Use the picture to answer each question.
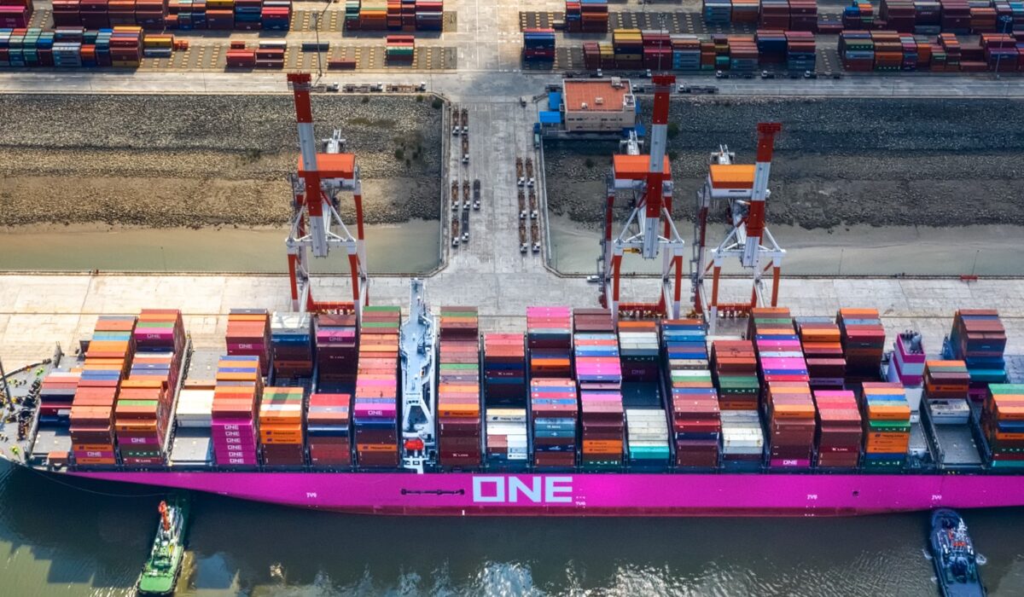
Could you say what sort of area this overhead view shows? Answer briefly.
port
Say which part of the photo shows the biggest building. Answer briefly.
top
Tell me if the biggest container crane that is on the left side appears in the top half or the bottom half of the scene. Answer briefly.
top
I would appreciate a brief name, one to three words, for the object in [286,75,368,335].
container crane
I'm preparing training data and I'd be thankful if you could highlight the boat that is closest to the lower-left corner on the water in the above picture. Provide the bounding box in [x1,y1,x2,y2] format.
[137,499,191,597]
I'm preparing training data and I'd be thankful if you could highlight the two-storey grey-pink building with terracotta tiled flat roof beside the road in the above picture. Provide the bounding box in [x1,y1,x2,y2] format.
[563,72,636,130]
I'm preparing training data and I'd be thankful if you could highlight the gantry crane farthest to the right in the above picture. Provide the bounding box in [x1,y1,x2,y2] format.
[685,121,785,336]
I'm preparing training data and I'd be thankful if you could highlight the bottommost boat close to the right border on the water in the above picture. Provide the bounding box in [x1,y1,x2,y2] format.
[924,508,987,597]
